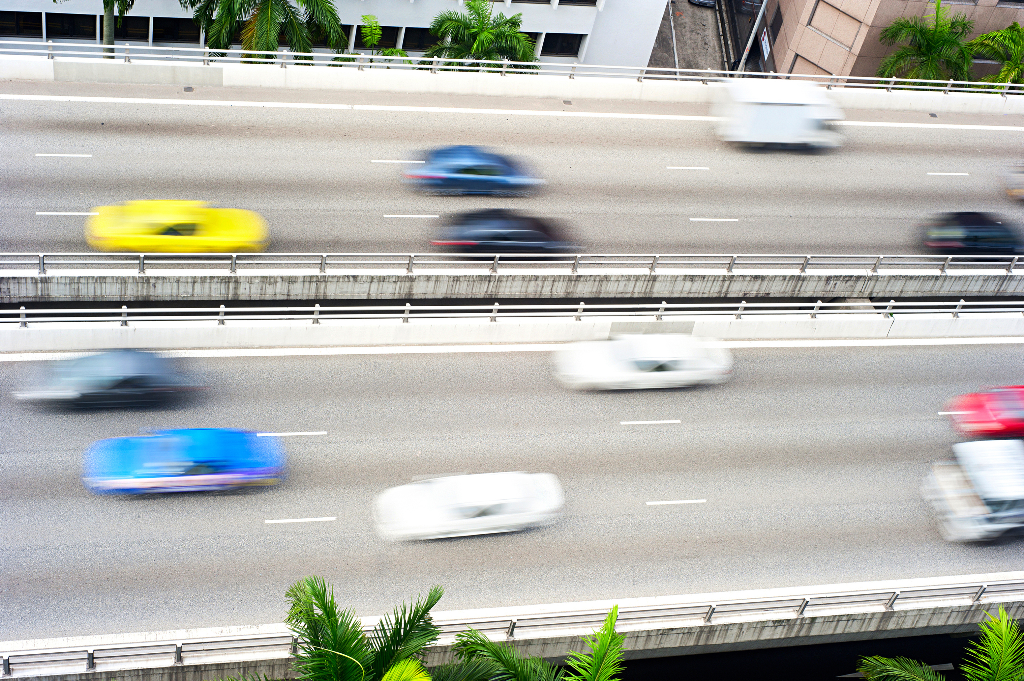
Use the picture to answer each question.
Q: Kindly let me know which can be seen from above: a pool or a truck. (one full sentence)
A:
Visible in the photo is a truck.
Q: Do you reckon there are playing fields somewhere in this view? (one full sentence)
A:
No, the photo shows no playing field.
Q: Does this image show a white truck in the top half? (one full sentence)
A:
Yes, looking in the top half, one can make out a white truck.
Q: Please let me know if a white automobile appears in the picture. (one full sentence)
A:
Yes, this view includes a white automobile.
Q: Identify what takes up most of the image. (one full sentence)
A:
What you mostly see from above here is paved ground.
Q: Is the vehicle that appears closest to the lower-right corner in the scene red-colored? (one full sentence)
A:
No, the vehicle that appears closest to the lower-right corner is white.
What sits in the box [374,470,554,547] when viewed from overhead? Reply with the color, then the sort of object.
white car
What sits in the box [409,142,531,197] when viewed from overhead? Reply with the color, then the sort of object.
blue car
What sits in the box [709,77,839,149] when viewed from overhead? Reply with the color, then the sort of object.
white truck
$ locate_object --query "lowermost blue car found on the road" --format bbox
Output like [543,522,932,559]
[87,425,282,500]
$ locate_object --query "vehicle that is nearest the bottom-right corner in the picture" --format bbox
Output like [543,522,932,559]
[918,445,1024,537]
